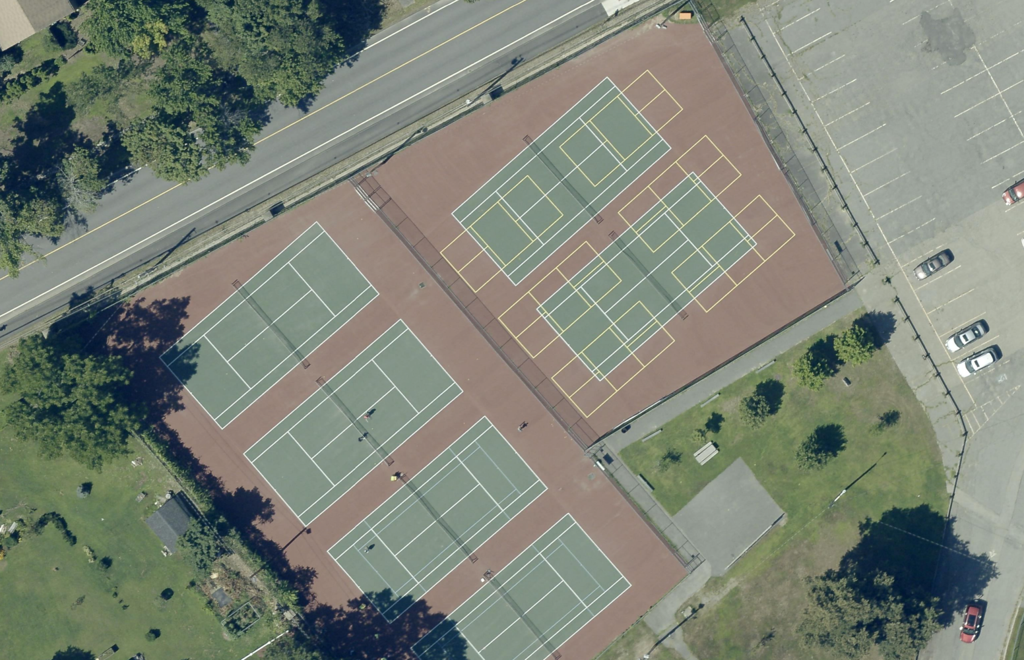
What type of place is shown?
sports ground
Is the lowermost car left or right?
right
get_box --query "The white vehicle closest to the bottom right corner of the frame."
[958,346,999,376]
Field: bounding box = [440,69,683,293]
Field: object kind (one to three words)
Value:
tennis court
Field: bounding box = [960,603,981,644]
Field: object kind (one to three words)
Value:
car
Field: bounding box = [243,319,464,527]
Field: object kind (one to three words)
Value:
tennis court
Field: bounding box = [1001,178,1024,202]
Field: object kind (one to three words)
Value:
car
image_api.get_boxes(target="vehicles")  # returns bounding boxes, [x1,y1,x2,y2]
[960,603,981,644]
[913,249,954,280]
[958,346,999,376]
[947,320,987,350]
[1001,178,1024,202]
